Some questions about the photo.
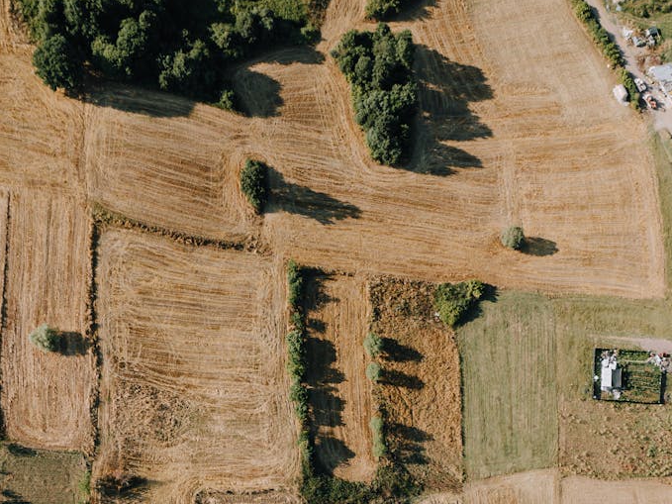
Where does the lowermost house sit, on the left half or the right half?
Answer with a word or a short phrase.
right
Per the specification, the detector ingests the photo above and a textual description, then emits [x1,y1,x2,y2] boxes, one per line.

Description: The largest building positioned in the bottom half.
[604,362,624,387]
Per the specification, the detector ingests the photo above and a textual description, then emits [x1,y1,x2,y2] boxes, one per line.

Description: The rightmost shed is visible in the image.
[653,58,672,87]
